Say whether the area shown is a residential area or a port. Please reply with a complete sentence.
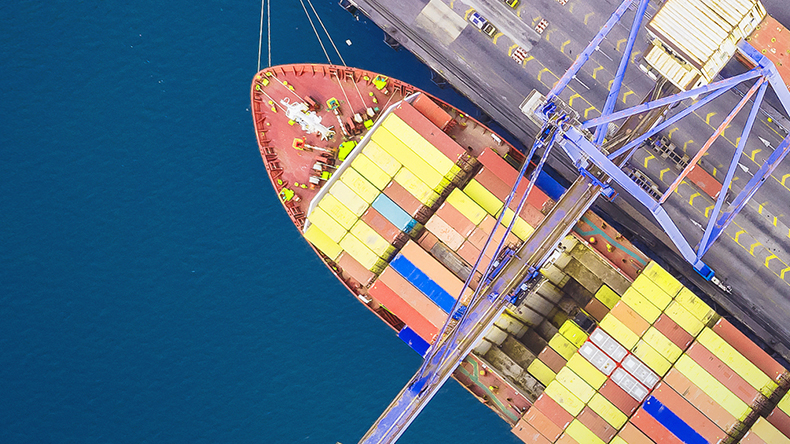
The picture captures a port.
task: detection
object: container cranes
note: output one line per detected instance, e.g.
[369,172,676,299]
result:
[355,0,790,444]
